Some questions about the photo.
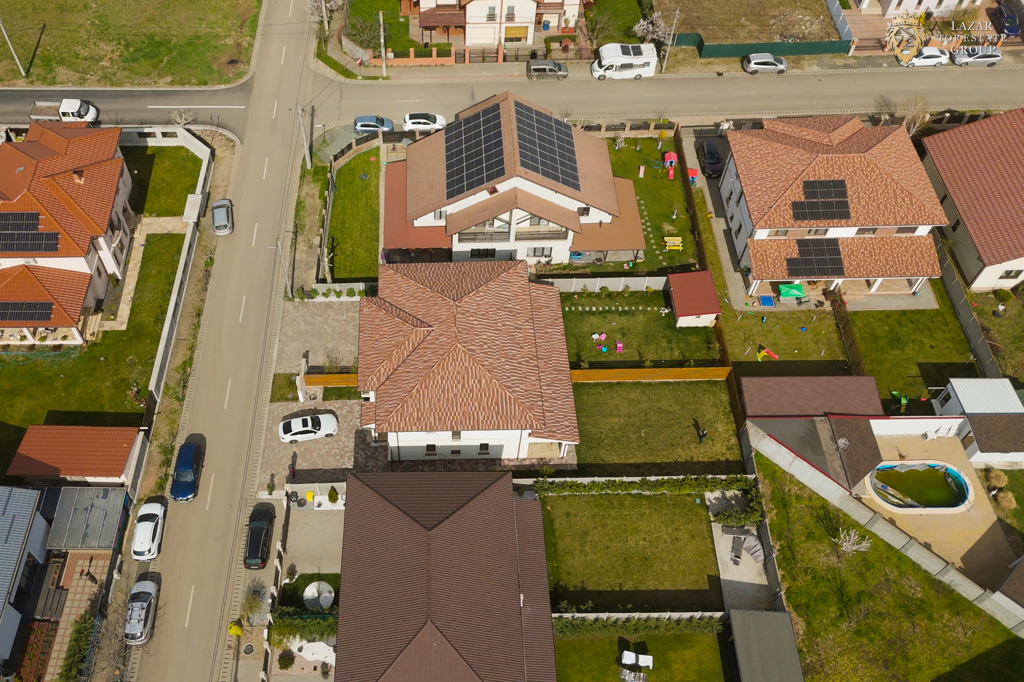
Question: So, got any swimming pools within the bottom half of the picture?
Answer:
Yes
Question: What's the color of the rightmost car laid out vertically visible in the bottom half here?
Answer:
black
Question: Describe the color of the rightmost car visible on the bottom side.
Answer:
white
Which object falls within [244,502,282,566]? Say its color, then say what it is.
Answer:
black car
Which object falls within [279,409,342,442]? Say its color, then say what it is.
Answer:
white car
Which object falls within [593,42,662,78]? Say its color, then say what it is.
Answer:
white camper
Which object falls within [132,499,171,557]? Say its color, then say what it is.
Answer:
white car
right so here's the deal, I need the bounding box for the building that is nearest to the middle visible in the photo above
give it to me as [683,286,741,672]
[356,260,578,465]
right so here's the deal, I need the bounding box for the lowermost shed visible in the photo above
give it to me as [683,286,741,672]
[726,609,805,682]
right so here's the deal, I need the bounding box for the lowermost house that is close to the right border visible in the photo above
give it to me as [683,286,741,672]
[989,553,1024,624]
